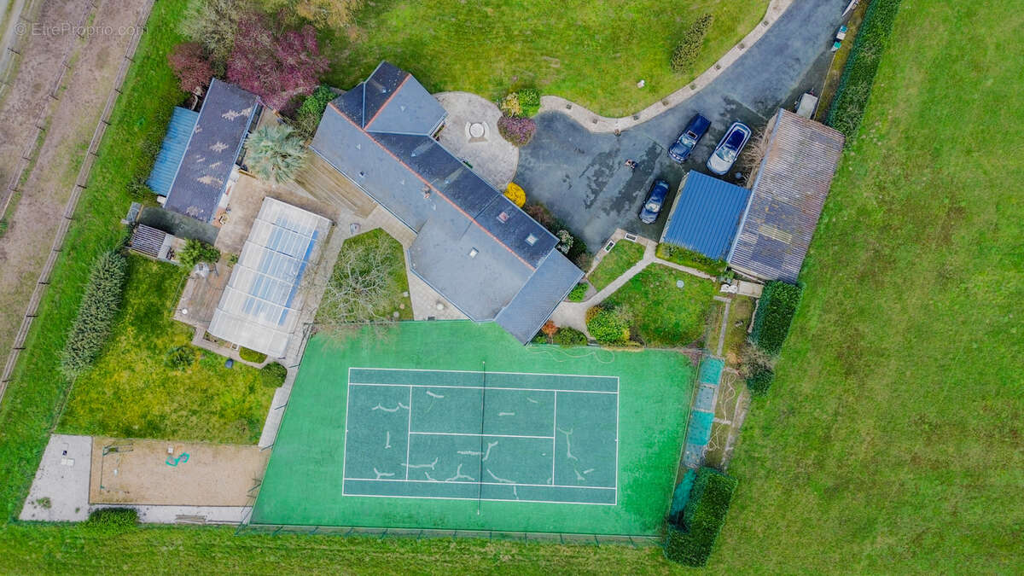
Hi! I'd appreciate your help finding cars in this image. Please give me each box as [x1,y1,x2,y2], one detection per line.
[707,120,753,175]
[666,112,713,166]
[640,179,670,225]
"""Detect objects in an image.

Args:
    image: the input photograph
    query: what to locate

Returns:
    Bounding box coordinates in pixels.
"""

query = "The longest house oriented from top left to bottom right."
[308,59,584,346]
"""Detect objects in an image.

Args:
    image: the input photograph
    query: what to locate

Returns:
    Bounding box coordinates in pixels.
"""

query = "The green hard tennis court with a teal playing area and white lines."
[250,321,701,538]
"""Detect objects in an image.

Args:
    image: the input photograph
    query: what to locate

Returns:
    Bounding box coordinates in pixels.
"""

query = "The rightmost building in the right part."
[720,108,845,284]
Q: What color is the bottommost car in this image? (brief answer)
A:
blue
